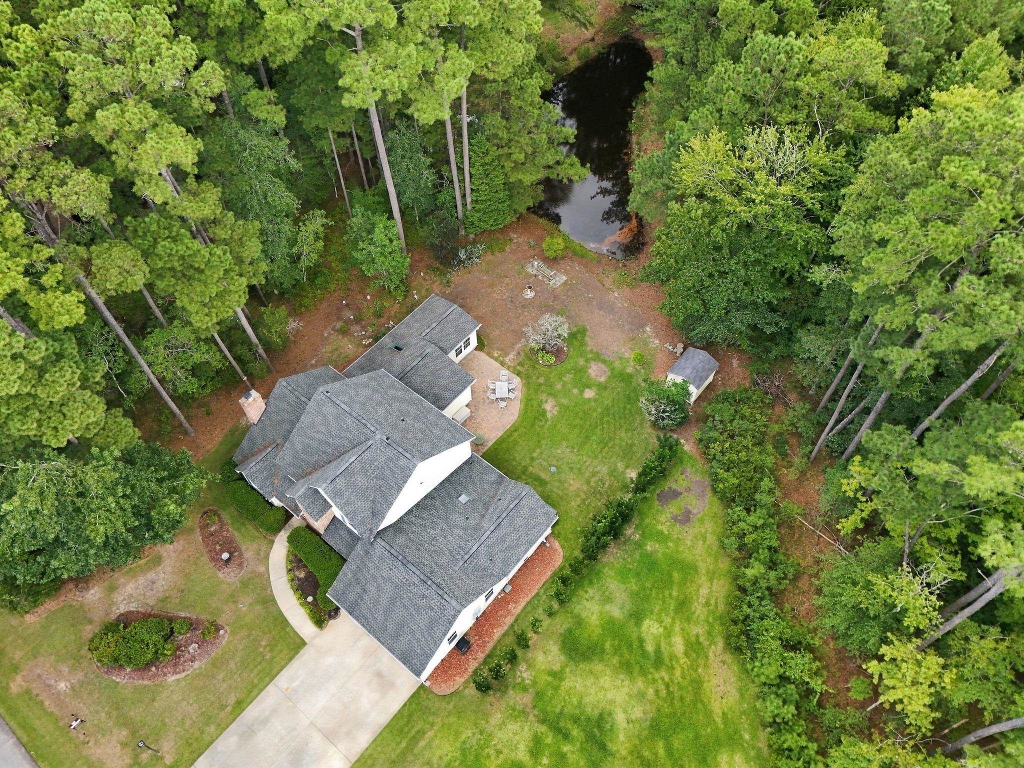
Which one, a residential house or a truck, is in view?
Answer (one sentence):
I can see a residential house in this picture.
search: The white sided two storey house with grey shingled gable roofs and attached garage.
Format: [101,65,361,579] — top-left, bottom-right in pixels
[231,295,560,692]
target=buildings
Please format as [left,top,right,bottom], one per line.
[231,295,560,692]
[667,348,719,407]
